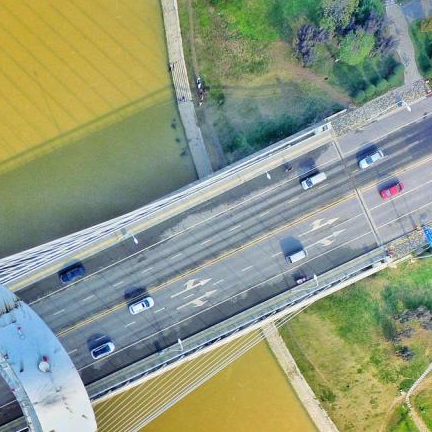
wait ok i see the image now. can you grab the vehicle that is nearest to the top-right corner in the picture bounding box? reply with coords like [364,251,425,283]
[357,150,385,169]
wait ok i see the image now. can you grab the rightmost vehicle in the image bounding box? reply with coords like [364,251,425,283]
[377,181,404,199]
